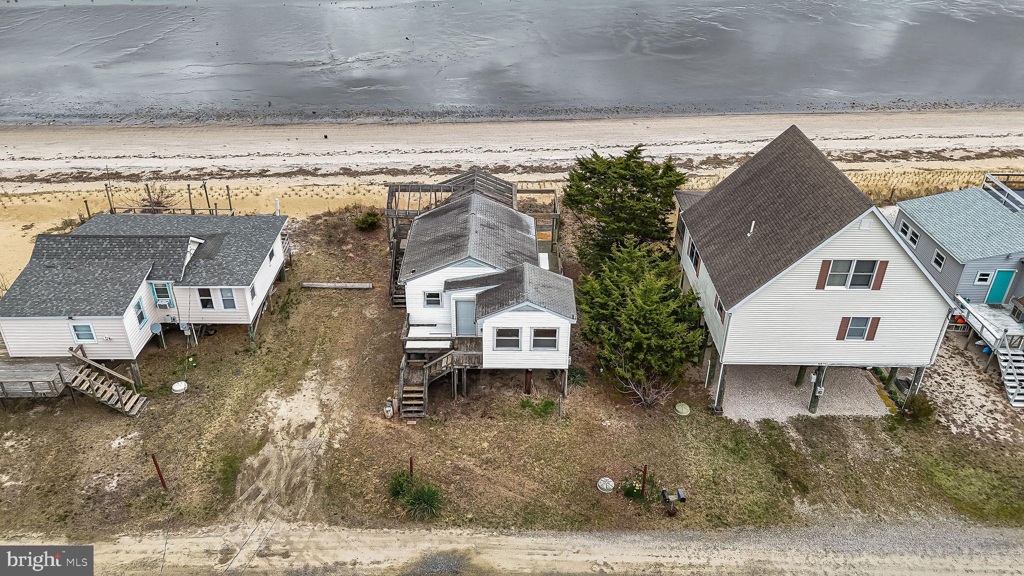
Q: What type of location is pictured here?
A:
residential area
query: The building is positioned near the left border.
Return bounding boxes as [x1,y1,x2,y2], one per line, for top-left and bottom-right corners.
[0,216,306,383]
